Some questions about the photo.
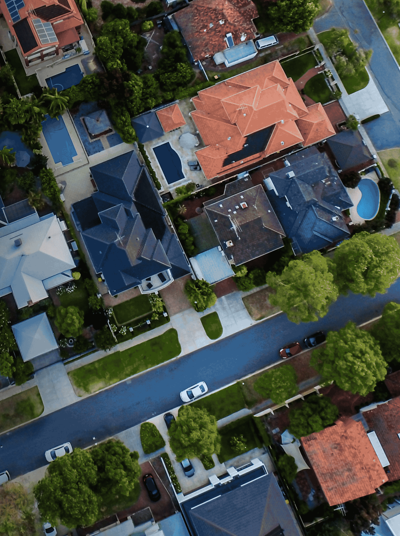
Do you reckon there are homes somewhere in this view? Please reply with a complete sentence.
Yes, a home can be made out from above.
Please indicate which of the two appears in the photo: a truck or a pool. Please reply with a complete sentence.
Visible in the photo is a pool.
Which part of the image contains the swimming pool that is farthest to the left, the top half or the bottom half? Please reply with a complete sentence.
It is in the top half that the swimming pool that is farthest to the left appears.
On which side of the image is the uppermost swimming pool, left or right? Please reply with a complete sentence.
It is on the left.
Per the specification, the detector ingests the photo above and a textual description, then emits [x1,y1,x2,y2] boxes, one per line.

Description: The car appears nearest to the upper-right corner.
[253,34,280,51]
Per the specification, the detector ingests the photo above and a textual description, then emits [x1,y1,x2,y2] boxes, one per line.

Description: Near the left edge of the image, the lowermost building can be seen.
[12,313,58,362]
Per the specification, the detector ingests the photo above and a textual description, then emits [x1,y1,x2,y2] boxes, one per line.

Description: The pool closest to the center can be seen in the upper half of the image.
[151,139,188,187]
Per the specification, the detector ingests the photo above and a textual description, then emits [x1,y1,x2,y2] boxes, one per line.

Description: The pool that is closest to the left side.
[0,129,34,164]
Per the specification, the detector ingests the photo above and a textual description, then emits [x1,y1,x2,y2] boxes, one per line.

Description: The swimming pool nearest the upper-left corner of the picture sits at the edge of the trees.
[43,62,82,92]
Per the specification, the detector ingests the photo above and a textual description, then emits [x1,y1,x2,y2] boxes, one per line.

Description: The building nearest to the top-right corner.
[325,124,375,170]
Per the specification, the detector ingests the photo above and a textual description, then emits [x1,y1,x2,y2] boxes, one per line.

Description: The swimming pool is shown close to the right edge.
[349,176,381,222]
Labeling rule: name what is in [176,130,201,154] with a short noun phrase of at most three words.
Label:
umbrella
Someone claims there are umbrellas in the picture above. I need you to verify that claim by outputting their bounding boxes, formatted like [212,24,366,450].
[13,149,33,168]
[176,130,201,154]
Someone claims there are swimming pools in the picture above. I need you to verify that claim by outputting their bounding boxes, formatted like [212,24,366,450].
[349,176,381,222]
[151,139,188,187]
[37,116,80,169]
[0,129,34,164]
[43,62,82,92]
